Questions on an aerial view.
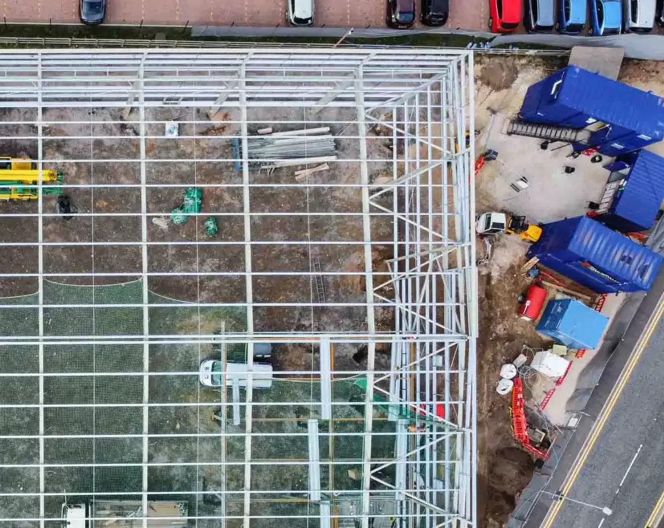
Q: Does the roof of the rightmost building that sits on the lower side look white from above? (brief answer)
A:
No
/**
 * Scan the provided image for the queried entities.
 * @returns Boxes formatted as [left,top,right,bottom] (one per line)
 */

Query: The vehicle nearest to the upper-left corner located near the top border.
[80,0,105,25]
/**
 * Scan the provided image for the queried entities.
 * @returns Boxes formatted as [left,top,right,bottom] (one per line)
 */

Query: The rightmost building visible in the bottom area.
[536,300,610,349]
